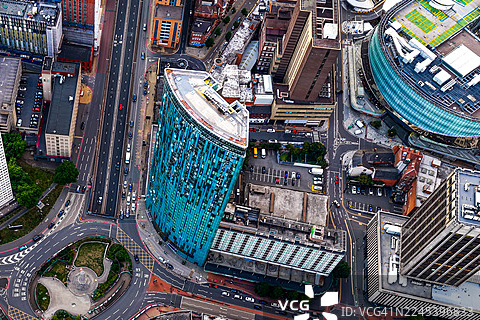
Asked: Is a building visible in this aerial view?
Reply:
Yes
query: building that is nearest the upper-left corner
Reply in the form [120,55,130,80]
[0,0,63,62]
